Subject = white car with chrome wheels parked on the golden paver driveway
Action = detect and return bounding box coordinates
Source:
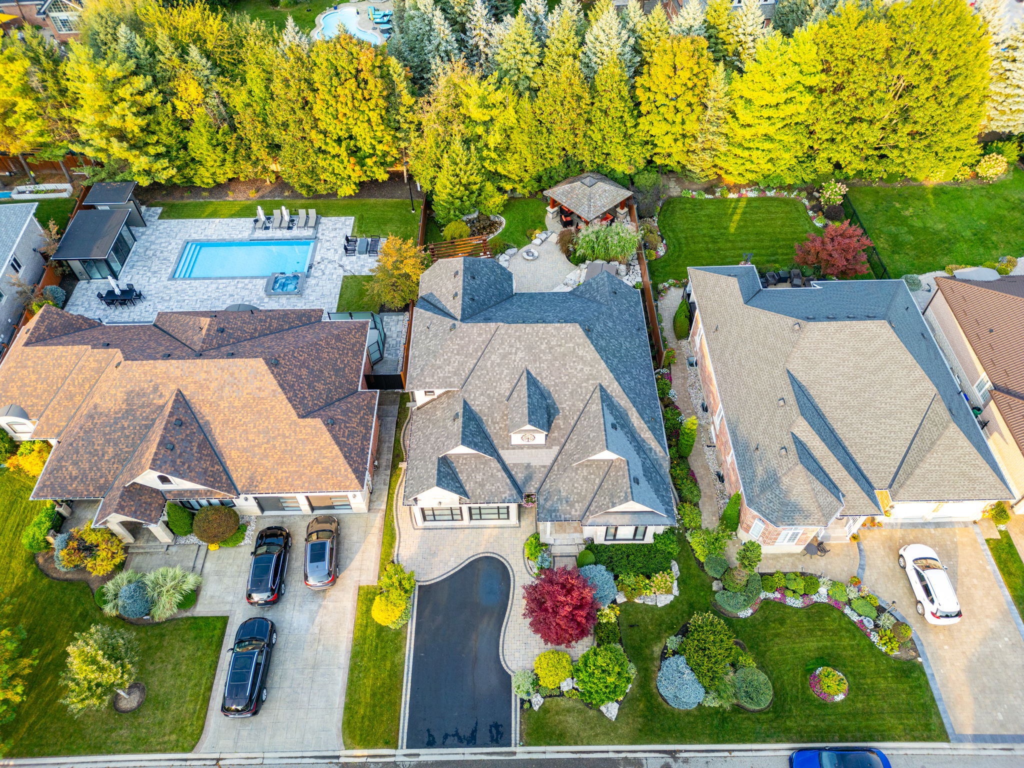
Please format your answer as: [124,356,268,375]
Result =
[902,548,971,634]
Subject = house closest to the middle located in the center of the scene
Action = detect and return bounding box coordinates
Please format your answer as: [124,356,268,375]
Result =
[401,256,679,543]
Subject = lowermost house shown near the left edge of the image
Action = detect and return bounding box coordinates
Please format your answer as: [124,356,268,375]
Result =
[0,304,381,550]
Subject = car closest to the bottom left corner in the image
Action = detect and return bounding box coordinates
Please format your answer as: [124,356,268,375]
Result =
[217,623,275,727]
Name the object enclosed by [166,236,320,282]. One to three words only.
swimming pool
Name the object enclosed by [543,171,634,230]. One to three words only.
gazebo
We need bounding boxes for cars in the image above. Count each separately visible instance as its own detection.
[902,548,971,634]
[299,517,340,596]
[217,623,275,727]
[793,749,895,768]
[241,528,291,613]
